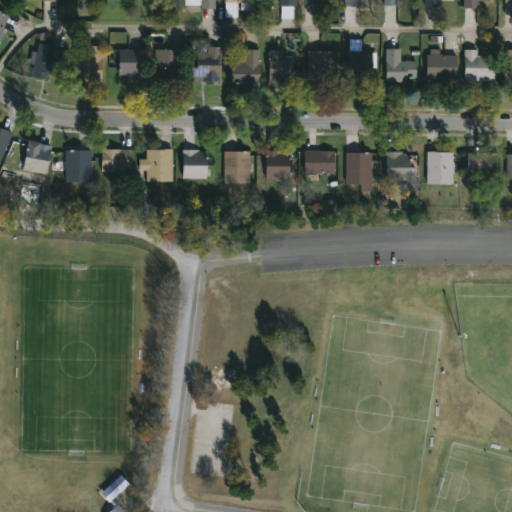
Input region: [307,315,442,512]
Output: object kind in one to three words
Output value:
soccer field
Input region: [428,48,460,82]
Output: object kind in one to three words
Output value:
house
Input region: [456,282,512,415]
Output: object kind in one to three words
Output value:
sports field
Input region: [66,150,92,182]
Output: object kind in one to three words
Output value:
house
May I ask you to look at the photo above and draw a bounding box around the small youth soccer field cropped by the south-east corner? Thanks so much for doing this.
[434,442,512,512]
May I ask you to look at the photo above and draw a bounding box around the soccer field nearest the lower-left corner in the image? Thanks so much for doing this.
[19,264,134,455]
